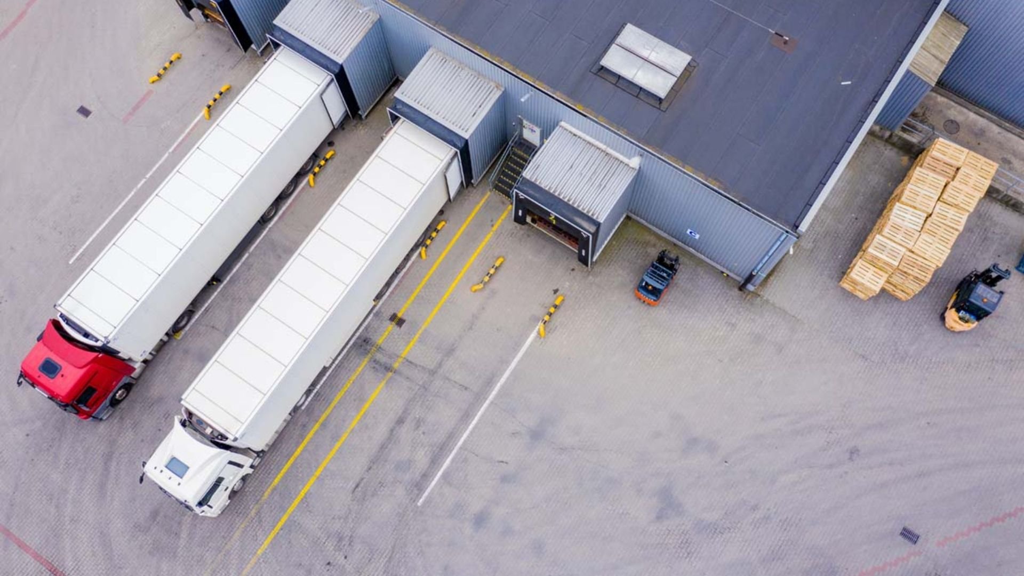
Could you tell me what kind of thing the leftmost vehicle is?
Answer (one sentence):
It turns out the leftmost vehicle is a truck.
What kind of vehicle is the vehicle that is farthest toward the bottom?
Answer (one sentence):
The vehicle that is farthest toward the bottom appears to be a truck.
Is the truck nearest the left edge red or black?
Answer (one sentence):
The color of the truck nearest the left edge is red.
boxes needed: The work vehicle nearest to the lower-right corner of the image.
[937,263,1012,336]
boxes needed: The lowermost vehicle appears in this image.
[142,393,306,520]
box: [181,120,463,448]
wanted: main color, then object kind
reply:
white trailer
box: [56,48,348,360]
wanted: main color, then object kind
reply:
white trailer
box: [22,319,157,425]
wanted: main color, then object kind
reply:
red truck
